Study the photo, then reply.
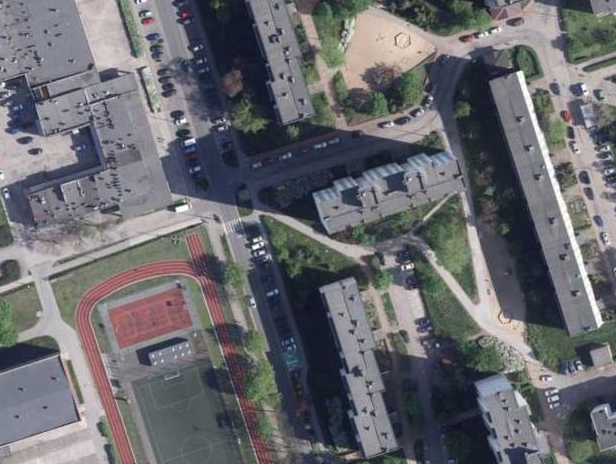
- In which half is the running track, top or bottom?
bottom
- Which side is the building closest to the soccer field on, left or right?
left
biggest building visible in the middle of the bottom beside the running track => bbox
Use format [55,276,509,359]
[319,274,402,459]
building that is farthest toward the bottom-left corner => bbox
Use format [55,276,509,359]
[0,352,82,444]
